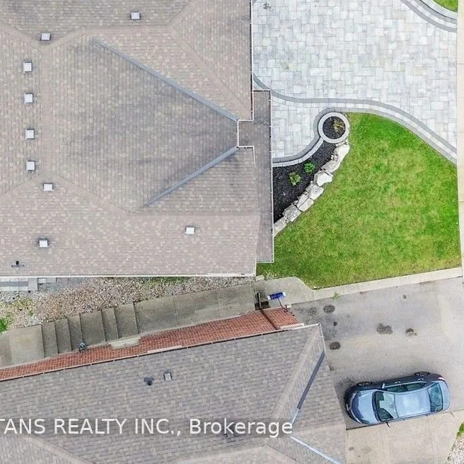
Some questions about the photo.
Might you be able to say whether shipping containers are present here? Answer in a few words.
No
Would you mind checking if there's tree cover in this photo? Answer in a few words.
No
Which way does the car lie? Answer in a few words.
from left to right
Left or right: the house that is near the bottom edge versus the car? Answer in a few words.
on its left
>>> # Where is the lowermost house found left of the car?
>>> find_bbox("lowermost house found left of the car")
[0,292,350,464]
